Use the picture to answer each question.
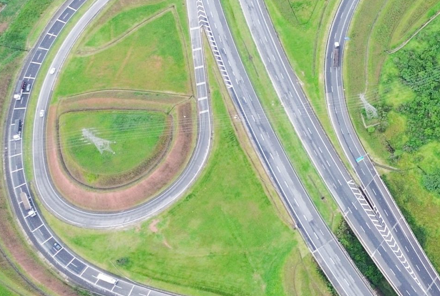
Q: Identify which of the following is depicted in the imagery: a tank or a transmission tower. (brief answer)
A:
transmission tower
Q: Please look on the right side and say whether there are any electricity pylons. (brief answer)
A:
Yes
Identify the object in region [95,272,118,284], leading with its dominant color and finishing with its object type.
white vehicle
